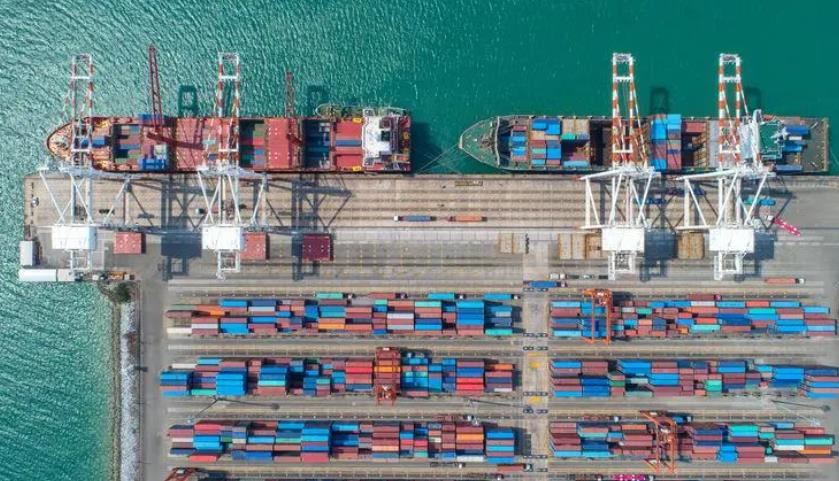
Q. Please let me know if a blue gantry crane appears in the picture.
No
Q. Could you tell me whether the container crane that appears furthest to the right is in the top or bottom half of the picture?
top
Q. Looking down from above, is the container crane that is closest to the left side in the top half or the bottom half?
top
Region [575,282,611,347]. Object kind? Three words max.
container crane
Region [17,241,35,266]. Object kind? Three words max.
shed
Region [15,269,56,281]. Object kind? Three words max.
shed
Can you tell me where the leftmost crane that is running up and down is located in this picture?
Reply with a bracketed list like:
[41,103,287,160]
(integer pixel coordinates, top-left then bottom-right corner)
[48,52,151,282]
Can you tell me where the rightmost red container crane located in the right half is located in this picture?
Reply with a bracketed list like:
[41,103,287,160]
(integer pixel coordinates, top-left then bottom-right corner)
[635,404,675,475]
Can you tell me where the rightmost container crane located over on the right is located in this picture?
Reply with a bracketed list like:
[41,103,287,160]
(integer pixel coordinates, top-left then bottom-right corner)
[664,52,764,282]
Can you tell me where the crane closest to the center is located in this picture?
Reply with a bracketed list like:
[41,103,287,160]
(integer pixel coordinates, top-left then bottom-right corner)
[374,341,405,410]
